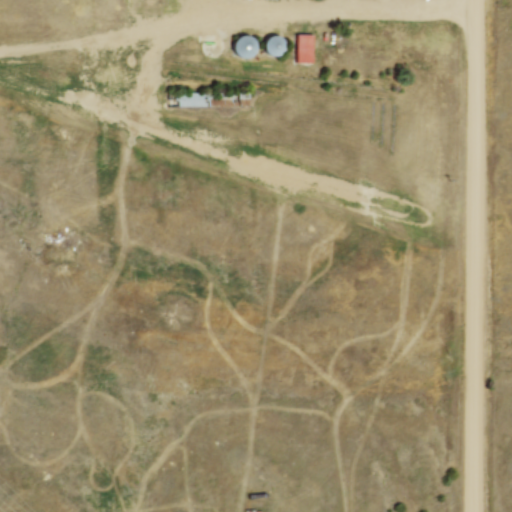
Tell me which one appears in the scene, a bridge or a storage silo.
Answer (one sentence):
This aerial view contains a storage silo.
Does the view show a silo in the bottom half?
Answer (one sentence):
No, looking in the bottom half, there is no silo.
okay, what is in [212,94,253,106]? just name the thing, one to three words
shed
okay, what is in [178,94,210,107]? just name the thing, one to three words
house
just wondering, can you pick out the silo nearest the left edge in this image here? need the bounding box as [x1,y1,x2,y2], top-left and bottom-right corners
[234,36,259,59]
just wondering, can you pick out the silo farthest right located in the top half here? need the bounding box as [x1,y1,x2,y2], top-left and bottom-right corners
[264,35,288,58]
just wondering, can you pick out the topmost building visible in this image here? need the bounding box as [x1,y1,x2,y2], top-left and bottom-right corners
[297,34,314,64]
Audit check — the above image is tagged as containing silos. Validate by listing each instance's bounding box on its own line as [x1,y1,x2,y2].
[264,35,288,58]
[234,36,259,59]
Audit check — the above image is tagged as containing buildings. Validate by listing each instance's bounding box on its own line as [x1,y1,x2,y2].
[178,94,210,107]
[212,94,253,106]
[297,34,314,64]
